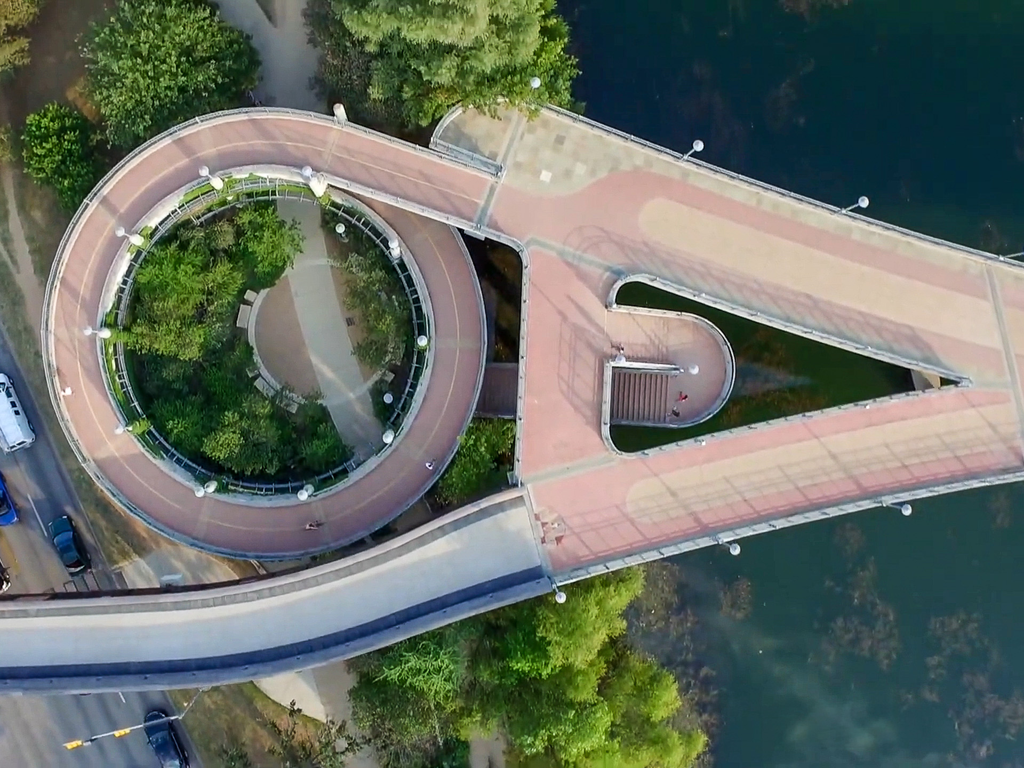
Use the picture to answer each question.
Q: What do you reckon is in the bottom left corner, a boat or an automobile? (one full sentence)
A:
Looking in the bottom left corner, you will find an automobile.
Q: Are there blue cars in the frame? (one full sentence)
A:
Yes, a blue car appears in the view.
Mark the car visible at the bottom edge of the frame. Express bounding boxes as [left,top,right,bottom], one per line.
[147,711,195,768]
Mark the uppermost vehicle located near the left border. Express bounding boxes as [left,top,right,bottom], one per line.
[0,375,41,454]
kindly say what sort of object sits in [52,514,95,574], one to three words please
car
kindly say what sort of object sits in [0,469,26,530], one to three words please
car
